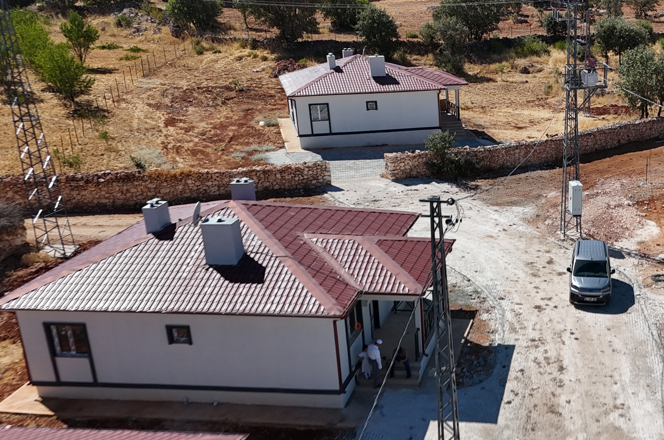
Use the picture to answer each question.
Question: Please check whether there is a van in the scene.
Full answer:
Yes, a van can be made out from above.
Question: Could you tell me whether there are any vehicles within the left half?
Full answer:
No, no vehicle can be made out within the left half.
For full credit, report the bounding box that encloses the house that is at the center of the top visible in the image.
[278,45,469,153]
